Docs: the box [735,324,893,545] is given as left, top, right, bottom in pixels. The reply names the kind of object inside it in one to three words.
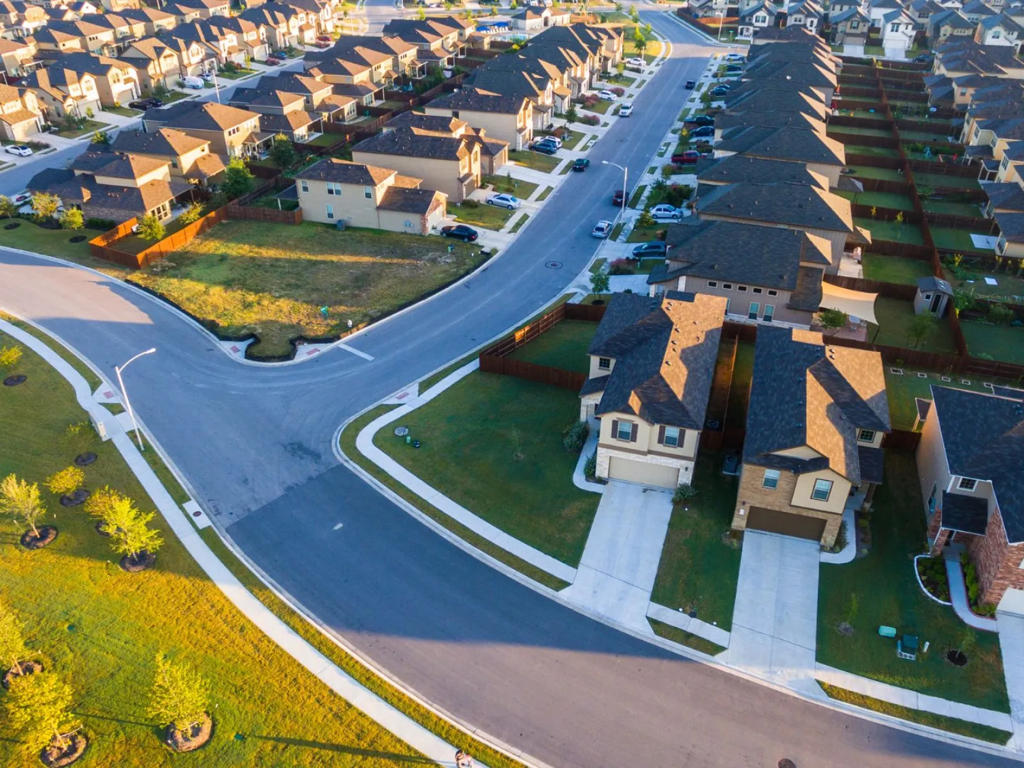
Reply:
house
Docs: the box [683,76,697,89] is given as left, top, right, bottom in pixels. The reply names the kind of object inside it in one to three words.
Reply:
vehicle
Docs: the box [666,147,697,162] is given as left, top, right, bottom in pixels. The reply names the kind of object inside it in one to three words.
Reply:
vehicle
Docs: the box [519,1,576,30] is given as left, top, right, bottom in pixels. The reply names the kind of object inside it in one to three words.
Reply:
building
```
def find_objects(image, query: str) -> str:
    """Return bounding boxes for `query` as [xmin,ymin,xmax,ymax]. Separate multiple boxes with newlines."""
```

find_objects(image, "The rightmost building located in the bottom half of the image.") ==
[893,385,1024,610]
